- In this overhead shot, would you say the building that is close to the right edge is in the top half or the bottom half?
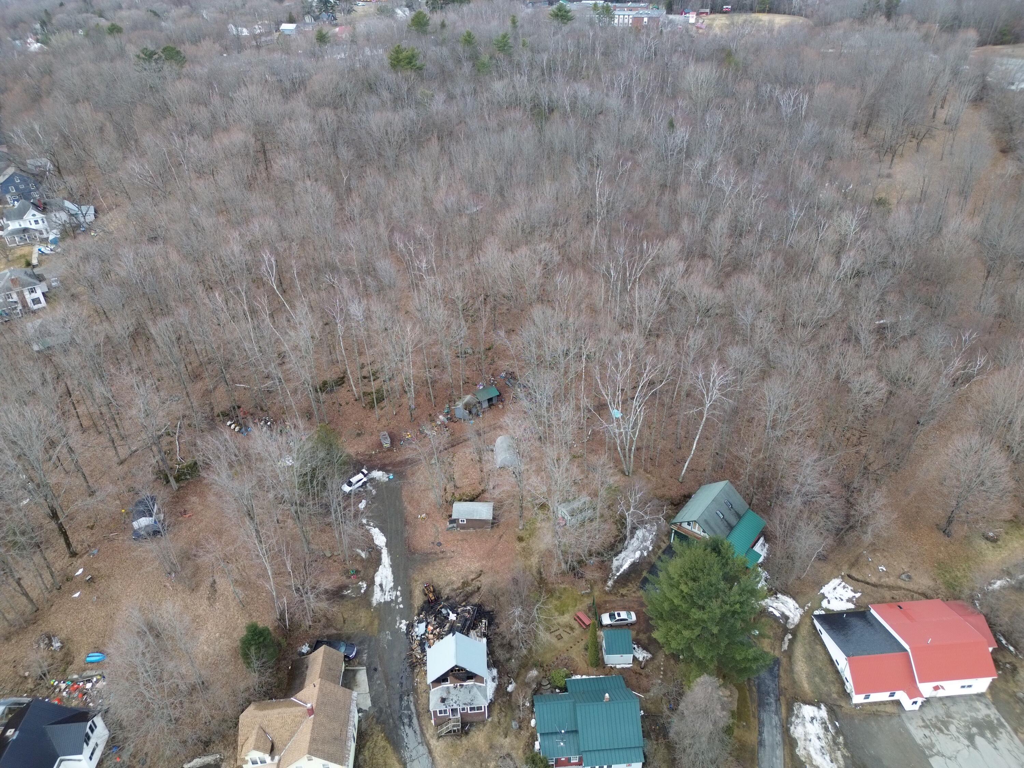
bottom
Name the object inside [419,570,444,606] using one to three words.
work vehicle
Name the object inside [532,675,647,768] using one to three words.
house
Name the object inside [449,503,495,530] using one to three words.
shed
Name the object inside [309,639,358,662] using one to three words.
truck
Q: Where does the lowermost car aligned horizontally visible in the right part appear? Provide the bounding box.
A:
[599,608,637,624]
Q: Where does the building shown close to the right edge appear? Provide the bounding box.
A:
[816,597,1000,713]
